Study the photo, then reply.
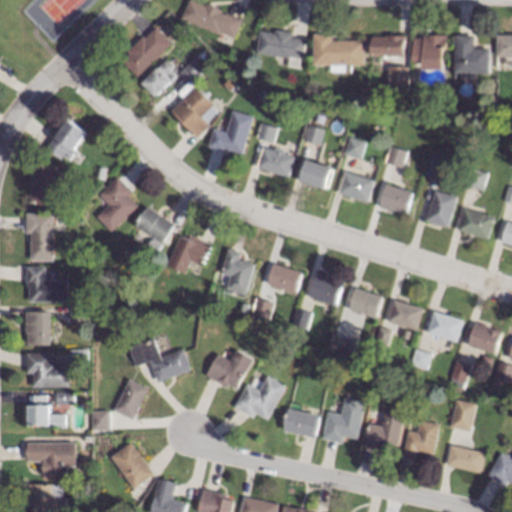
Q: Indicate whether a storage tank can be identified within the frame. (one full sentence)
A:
No, there appears to be no storage tank in this shot.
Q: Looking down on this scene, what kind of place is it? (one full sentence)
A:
What you see here is a residential area.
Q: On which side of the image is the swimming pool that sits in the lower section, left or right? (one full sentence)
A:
You can find the swimming pool that sits in the lower section on the left side of the picture.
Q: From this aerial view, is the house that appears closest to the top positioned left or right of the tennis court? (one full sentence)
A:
In the image, the house that appears closest to the top sits on the right side of the tennis court.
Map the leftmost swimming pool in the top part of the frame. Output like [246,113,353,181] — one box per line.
[330,121,346,136]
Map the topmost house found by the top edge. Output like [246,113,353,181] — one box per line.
[182,0,243,38]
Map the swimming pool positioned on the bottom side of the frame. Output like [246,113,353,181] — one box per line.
[70,405,90,433]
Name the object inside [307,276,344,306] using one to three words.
house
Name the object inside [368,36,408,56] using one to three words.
house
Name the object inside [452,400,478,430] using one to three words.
building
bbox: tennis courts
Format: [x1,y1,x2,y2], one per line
[23,0,98,43]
